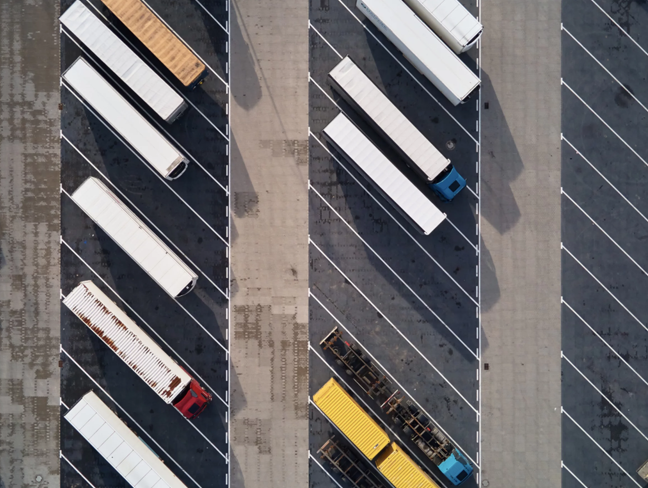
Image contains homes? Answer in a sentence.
No, I find no home anywhere in the image.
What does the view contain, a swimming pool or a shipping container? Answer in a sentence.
The image shows a shipping container.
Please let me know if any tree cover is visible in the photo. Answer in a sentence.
No, the scene doesn't show any tree cover.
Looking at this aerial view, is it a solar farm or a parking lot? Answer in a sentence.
This image shows a parking lot.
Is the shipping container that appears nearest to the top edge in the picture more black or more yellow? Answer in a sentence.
The color of the shipping container that appears nearest to the top edge is yellow.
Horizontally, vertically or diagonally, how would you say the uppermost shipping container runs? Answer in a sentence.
The uppermost shipping container has been laid out diagonally relative to the frame.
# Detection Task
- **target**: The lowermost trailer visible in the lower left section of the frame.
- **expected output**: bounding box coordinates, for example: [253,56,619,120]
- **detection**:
[64,391,186,488]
